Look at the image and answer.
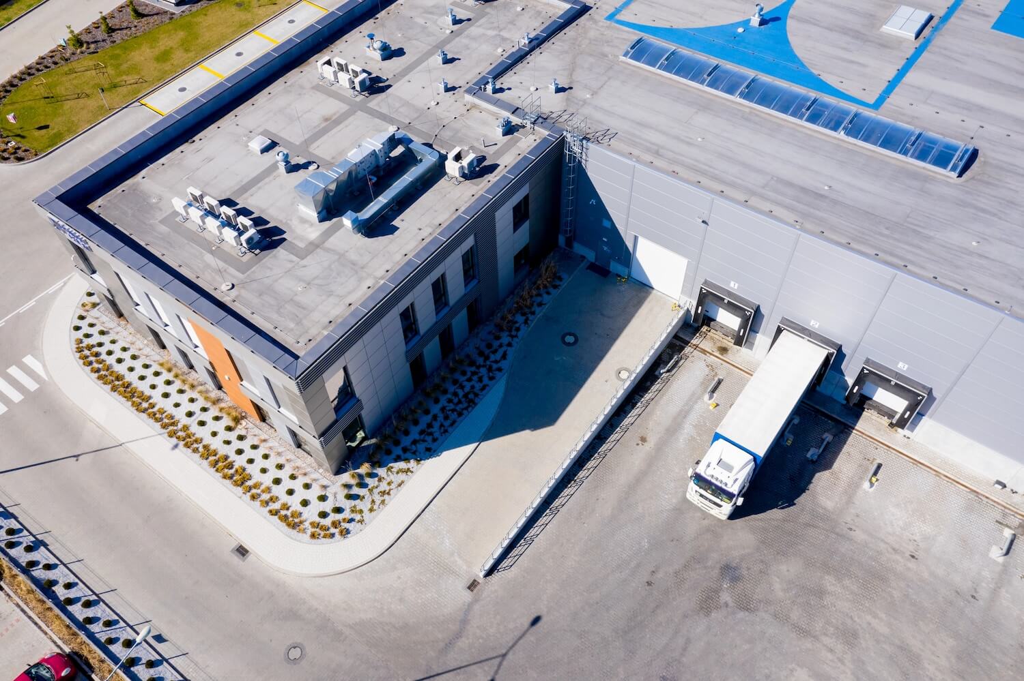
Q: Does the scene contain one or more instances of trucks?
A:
Yes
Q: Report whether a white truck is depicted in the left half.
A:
No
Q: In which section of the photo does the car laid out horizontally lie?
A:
bottom left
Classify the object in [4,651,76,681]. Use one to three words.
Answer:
car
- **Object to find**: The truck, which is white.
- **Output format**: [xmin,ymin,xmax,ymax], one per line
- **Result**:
[686,327,830,524]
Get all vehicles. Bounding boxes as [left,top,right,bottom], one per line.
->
[686,327,830,524]
[4,651,76,681]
